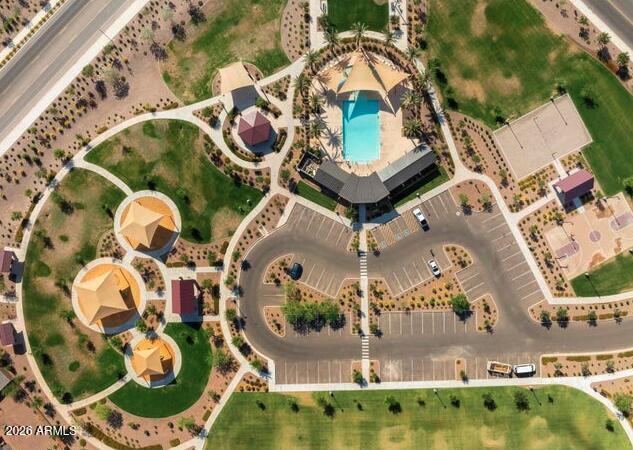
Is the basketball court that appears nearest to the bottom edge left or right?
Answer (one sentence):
The basketball court that appears nearest to the bottom edge sits on the right side.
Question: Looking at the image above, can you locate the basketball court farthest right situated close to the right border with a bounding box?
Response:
[545,193,633,279]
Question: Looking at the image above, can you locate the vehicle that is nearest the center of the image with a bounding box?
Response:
[289,261,304,282]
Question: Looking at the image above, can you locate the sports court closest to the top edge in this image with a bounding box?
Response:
[493,93,593,180]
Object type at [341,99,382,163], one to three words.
swimming pool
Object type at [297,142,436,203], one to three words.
building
